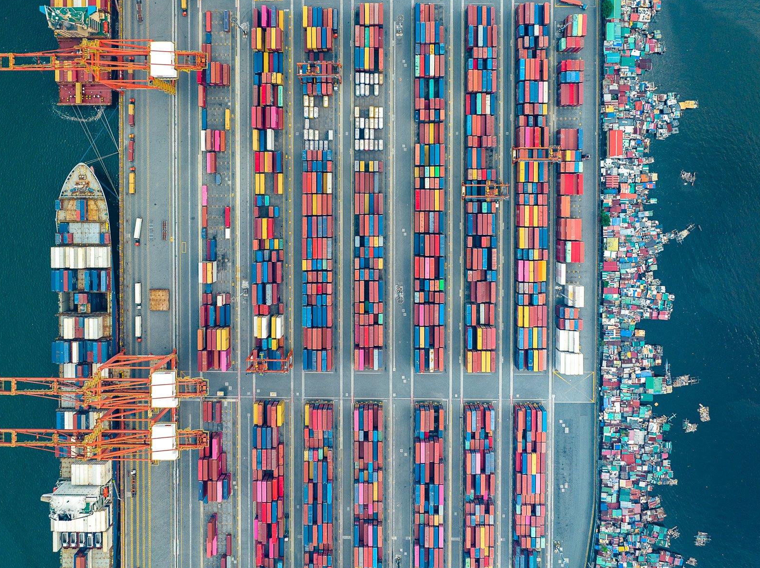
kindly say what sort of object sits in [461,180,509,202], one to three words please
container crane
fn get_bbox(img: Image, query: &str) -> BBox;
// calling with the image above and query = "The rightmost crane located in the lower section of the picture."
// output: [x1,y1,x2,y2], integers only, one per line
[247,348,293,375]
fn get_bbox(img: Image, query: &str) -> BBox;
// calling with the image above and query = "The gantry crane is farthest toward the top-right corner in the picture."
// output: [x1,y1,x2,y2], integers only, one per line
[510,143,563,166]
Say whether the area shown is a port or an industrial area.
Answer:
port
